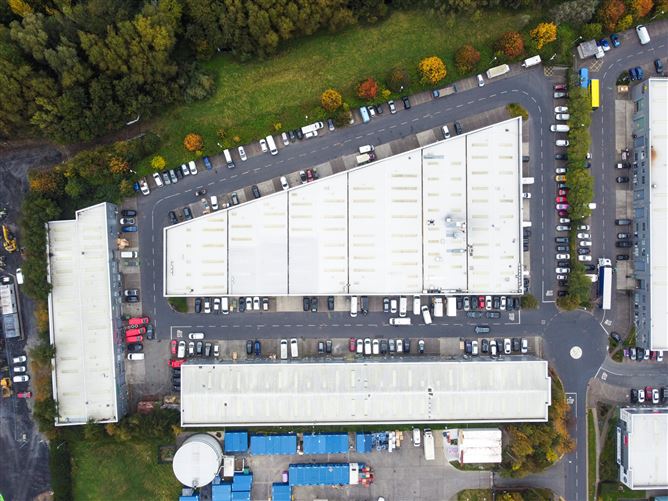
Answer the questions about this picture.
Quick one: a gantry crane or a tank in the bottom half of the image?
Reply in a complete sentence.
There is a tank in the bottom half of the image.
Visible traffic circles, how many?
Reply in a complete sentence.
In total, 1 traffic circle can be seen.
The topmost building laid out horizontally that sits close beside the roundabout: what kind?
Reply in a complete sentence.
What you see as the topmost building laid out horizontally that sits close beside the roundabout is a warehouse.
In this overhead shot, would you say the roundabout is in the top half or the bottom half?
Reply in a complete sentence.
The roundabout is in the bottom half of the image.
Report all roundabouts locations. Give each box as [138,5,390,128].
[530,304,608,398]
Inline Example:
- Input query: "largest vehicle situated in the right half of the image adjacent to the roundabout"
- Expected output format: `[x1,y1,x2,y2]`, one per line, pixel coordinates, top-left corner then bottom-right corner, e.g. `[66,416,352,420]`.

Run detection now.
[596,260,611,312]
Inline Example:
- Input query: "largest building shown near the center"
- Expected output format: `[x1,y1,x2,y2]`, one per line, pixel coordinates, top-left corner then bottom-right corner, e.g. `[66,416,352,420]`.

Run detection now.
[164,116,524,297]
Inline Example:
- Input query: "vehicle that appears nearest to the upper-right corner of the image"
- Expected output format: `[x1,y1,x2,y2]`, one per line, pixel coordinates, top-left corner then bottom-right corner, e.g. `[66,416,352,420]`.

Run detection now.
[635,26,652,46]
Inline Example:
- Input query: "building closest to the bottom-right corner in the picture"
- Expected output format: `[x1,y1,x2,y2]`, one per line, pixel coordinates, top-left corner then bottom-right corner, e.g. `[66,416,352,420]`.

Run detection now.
[611,408,668,489]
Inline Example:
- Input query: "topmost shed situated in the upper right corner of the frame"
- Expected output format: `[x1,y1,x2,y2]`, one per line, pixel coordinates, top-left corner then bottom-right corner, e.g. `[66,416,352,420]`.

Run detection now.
[575,39,599,61]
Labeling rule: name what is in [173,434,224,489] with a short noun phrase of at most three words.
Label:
storage tank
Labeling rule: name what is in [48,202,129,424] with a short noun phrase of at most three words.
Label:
building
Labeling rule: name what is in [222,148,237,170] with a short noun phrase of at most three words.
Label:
vehicle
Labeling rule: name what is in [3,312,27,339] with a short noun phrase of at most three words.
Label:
building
